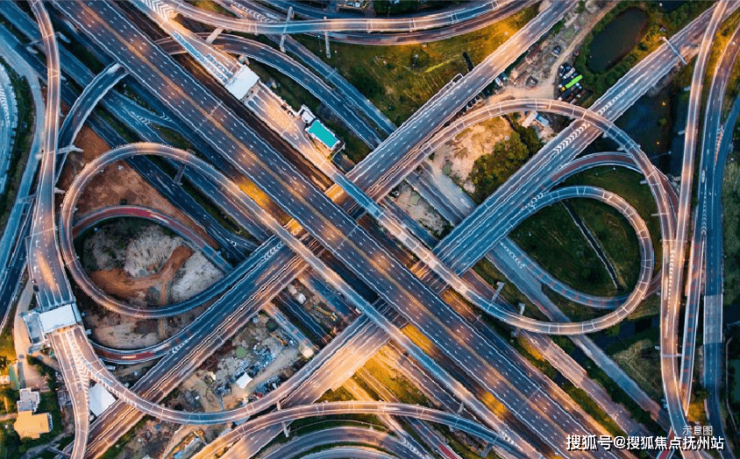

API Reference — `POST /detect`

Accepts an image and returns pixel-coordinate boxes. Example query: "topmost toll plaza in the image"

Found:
[223,63,265,105]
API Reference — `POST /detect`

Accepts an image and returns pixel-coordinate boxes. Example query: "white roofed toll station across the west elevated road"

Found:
[37,297,81,338]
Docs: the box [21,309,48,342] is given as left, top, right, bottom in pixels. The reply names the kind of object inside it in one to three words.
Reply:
building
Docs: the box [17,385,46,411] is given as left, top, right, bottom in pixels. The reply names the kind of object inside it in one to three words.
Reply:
house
